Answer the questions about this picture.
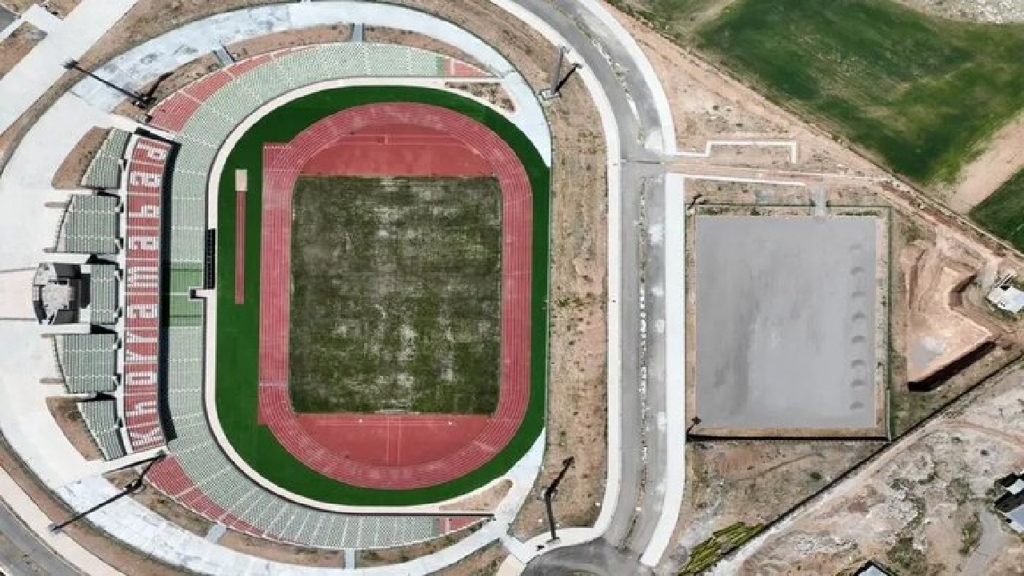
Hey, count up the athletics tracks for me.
one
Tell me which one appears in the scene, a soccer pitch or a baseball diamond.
soccer pitch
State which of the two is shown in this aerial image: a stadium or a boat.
stadium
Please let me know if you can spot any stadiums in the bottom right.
No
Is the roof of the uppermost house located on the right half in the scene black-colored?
No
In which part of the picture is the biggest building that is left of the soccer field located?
left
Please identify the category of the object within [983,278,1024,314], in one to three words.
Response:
house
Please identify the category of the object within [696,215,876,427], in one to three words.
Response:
sports court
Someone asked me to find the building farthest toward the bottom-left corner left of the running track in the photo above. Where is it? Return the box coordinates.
[33,264,92,323]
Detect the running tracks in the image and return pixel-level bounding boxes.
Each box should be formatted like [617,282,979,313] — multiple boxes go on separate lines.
[259,102,533,490]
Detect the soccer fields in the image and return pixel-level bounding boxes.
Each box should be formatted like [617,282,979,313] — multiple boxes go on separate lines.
[291,177,501,413]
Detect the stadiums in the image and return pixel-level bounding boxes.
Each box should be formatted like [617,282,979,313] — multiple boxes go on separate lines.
[39,23,496,568]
